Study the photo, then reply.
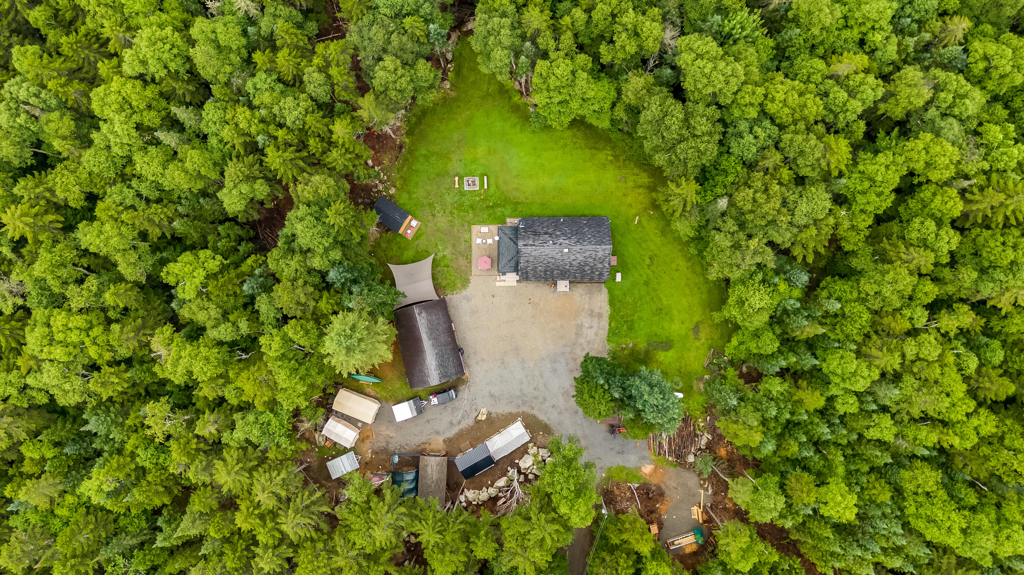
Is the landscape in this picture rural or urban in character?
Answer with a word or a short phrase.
rural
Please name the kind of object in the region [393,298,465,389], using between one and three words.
building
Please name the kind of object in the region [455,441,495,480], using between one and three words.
shed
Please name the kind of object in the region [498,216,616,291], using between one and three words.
house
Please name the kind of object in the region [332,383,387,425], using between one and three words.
tent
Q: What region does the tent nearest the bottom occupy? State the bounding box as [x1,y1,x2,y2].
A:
[322,417,360,449]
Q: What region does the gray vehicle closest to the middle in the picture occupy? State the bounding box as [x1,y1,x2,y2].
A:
[428,388,457,406]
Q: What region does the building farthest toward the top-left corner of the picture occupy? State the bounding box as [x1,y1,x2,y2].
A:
[373,196,422,240]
